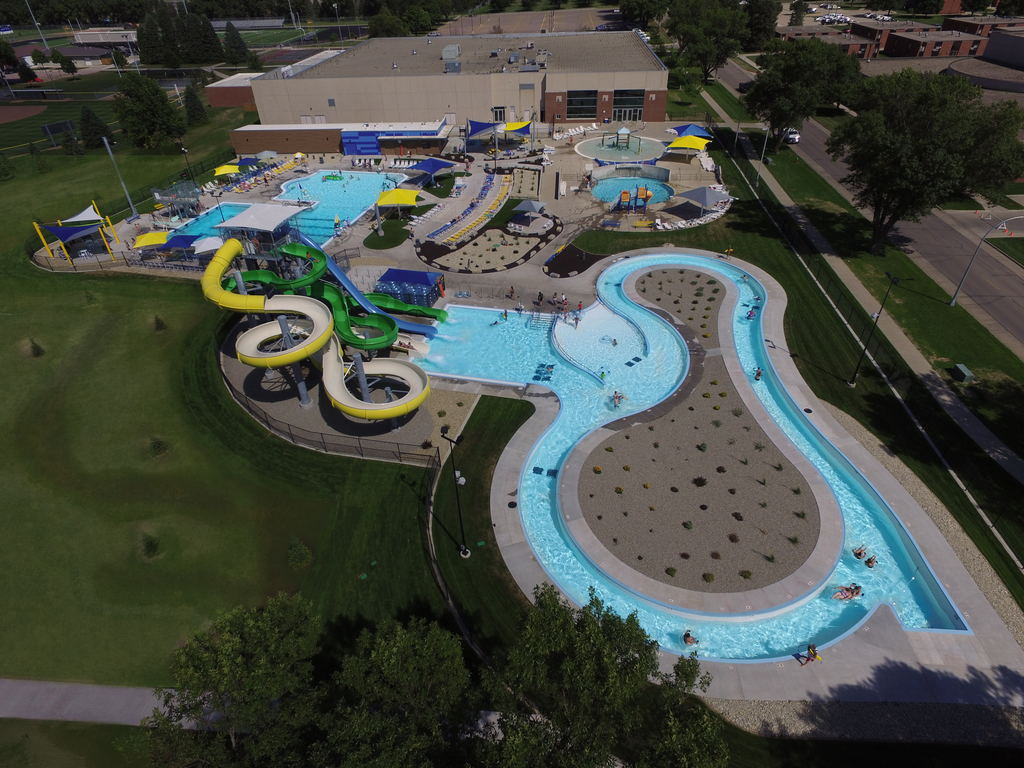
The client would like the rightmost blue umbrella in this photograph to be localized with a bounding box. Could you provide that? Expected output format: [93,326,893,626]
[669,124,715,138]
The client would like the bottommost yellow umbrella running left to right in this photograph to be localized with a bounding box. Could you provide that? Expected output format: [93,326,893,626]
[132,232,171,249]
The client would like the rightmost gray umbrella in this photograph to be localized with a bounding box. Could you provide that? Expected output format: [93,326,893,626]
[669,187,740,214]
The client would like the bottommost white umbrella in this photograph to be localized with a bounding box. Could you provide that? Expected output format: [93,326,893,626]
[193,236,225,256]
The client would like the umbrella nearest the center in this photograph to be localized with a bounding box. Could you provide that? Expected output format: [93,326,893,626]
[510,200,548,225]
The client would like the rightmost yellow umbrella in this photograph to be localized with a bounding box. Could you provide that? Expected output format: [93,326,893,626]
[665,136,713,161]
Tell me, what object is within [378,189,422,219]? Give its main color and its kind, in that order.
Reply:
yellow umbrella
